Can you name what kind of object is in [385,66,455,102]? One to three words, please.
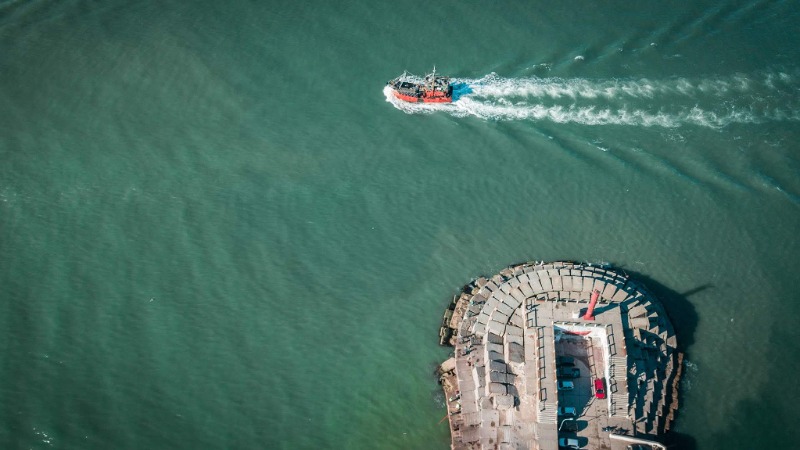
boat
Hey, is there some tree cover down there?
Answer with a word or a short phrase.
No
